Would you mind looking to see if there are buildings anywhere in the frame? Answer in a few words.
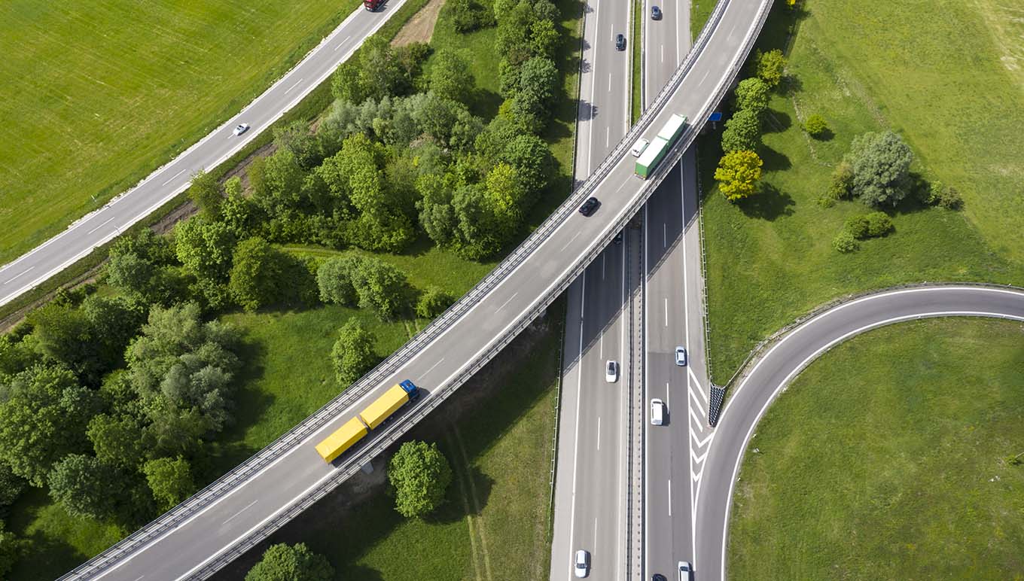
No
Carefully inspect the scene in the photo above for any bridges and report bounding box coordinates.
[61,0,775,581]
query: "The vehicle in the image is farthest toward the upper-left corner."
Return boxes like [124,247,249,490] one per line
[231,123,249,137]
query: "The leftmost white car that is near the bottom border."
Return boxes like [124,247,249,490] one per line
[574,548,588,579]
